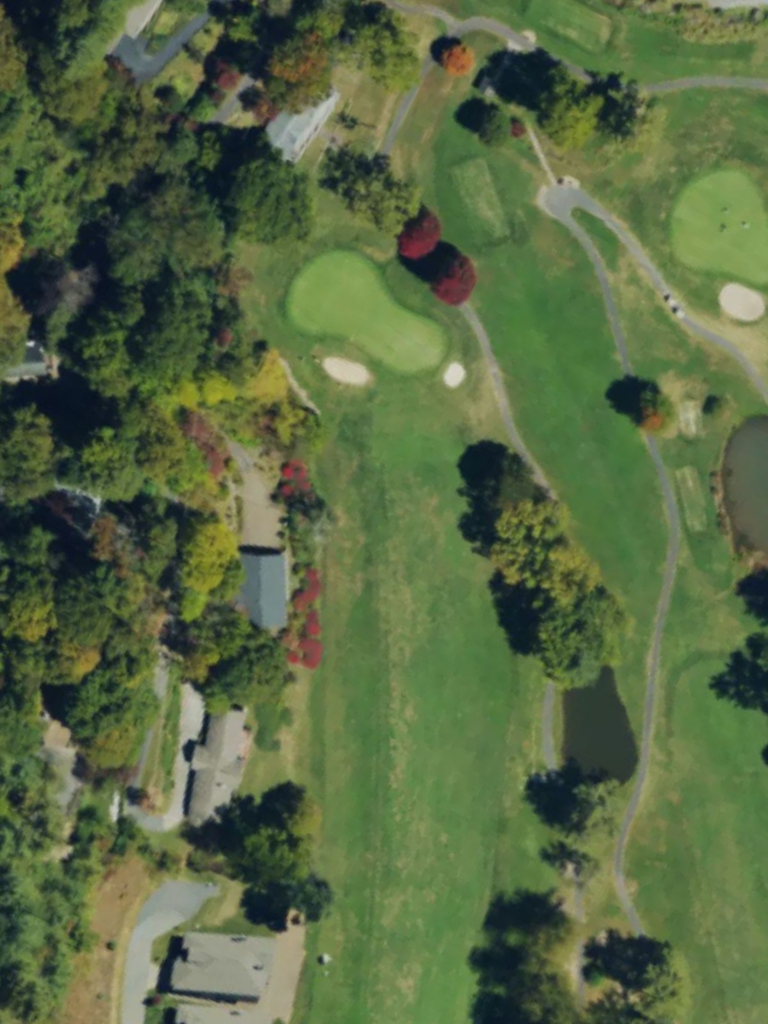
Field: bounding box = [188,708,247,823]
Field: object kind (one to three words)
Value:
house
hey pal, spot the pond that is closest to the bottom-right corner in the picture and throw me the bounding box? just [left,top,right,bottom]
[562,665,639,779]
